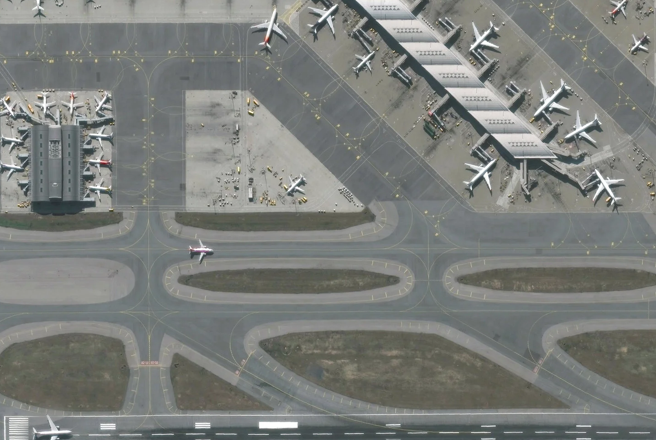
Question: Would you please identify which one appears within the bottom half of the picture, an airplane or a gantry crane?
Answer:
airplane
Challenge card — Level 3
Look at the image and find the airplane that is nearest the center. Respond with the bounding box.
[287,173,307,194]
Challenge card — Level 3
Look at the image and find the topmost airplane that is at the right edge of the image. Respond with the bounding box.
[607,0,627,18]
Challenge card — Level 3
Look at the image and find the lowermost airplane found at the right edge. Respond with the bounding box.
[594,169,627,206]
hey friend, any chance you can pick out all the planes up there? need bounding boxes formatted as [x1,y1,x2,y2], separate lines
[0,156,25,178]
[305,4,337,35]
[188,238,214,261]
[462,159,498,192]
[89,153,111,173]
[89,179,112,199]
[565,109,603,140]
[607,0,627,18]
[470,20,499,50]
[630,32,652,52]
[594,169,627,206]
[351,51,374,72]
[533,78,571,116]
[0,129,23,150]
[90,126,114,148]
[32,413,71,440]
[60,91,82,117]
[95,92,111,113]
[35,92,55,116]
[0,97,14,118]
[287,173,307,194]
[252,9,285,48]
